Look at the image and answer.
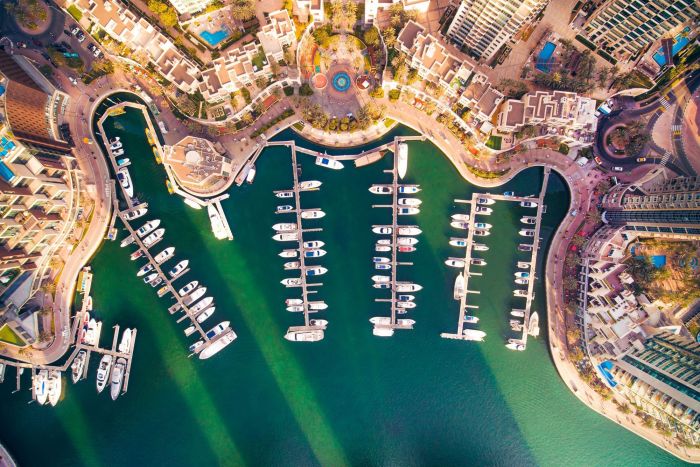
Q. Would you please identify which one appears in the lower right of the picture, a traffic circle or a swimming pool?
swimming pool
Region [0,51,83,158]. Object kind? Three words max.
building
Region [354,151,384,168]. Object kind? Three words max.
ship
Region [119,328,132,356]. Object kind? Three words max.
boat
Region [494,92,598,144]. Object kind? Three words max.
building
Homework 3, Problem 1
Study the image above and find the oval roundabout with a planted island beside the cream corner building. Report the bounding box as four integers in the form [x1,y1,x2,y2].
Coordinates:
[593,108,659,169]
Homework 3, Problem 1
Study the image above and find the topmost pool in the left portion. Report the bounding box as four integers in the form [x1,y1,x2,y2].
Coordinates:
[188,5,240,50]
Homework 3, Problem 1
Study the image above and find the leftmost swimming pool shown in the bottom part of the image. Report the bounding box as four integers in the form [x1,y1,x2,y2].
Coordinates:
[591,358,619,394]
